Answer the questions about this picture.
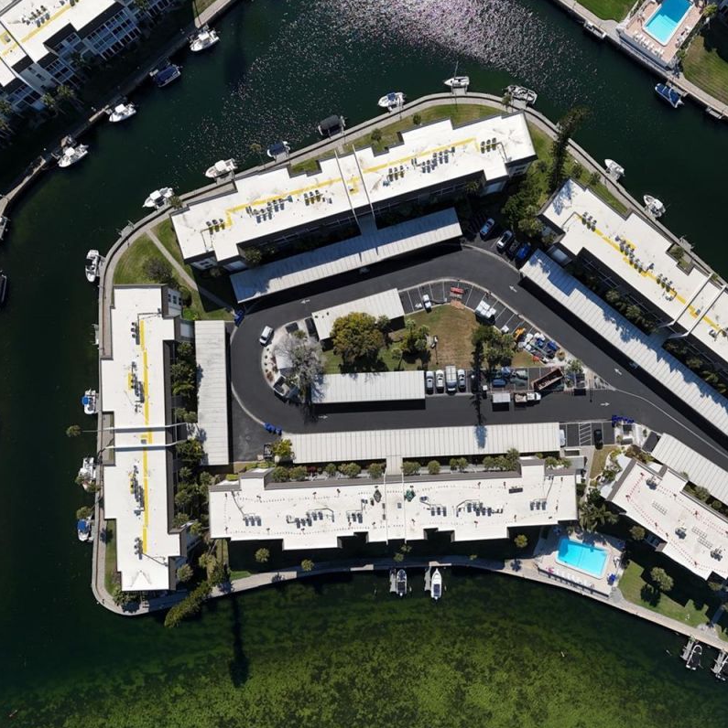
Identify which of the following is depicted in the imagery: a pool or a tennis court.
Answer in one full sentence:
I can see a pool in this picture.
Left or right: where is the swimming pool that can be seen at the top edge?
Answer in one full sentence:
The swimming pool that can be seen at the top edge sits on the right side.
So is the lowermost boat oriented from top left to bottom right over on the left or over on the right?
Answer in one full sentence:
The lowermost boat oriented from top left to bottom right is on the right side of the image.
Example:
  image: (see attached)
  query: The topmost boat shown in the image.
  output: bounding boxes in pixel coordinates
[192,31,221,50]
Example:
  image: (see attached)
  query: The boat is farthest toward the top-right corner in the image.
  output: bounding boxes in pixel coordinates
[657,85,682,108]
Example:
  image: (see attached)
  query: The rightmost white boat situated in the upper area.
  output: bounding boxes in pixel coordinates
[642,197,666,219]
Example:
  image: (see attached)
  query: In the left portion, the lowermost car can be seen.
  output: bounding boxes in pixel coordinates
[260,327,274,345]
